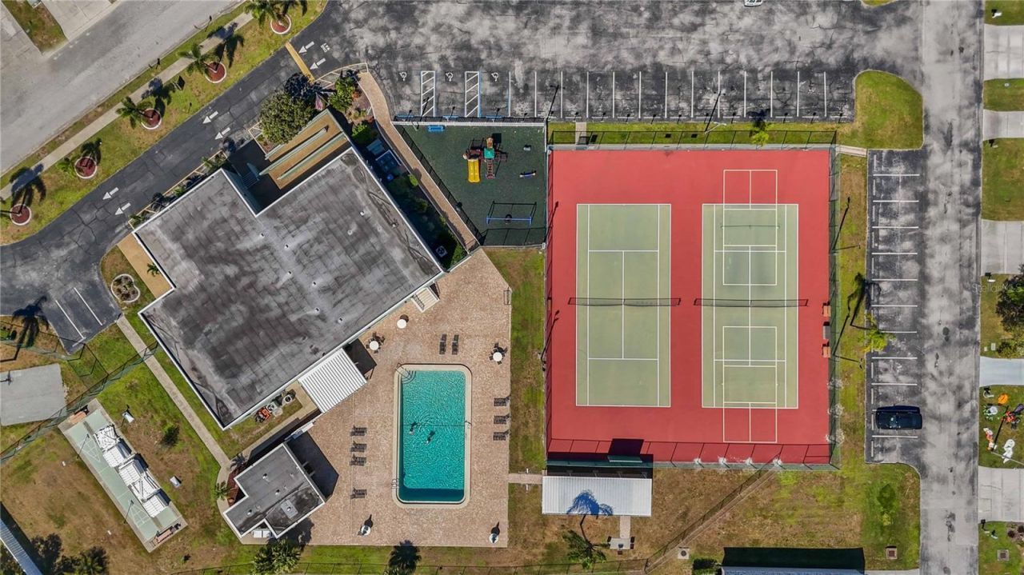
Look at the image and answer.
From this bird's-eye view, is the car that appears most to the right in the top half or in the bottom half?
bottom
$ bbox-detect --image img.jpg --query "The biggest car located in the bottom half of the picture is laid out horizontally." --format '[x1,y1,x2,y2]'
[877,408,926,430]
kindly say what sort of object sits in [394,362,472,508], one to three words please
swimming pool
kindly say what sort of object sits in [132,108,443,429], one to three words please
building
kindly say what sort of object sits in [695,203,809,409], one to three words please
tennis court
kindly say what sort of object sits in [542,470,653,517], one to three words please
building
